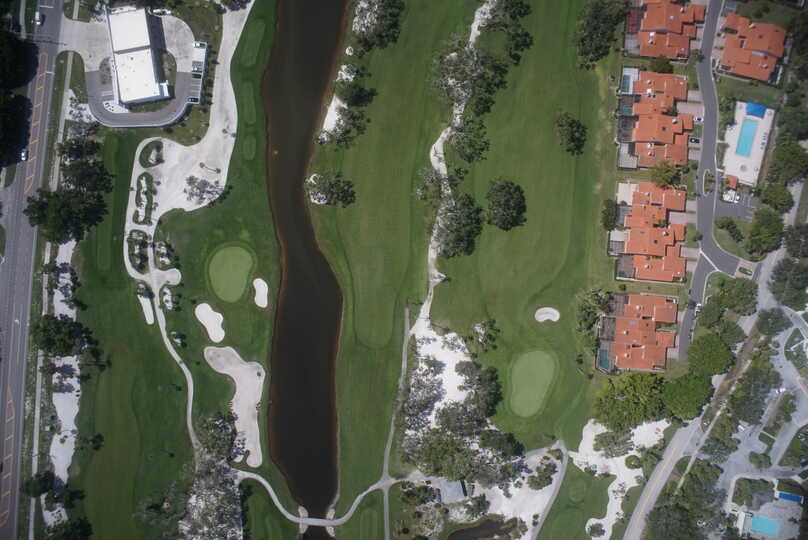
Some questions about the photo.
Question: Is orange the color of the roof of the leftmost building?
No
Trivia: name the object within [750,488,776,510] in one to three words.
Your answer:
building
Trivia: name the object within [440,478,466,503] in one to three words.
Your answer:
shed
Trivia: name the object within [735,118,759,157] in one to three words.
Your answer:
swimming pool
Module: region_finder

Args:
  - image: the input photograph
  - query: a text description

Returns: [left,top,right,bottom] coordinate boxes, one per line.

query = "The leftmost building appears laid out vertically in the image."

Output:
[109,6,167,107]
